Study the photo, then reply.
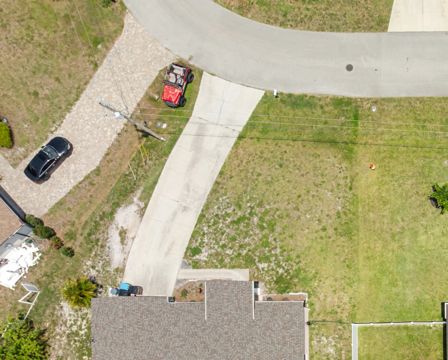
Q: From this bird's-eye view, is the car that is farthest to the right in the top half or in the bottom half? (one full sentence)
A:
It is in the top half that the car that is farthest to the right appears.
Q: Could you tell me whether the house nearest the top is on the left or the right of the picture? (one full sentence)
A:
It is on the left.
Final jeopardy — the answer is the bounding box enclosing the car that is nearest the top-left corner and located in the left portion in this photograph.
[23,137,74,184]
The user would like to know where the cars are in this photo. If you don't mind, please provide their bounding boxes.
[162,60,196,110]
[23,137,74,184]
